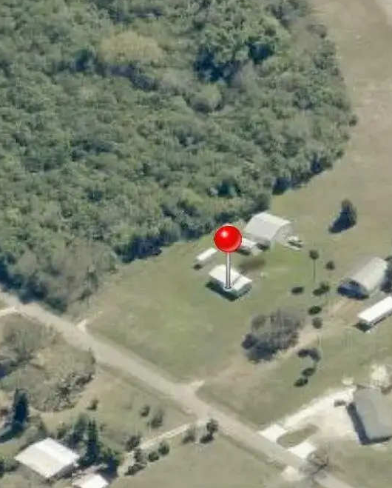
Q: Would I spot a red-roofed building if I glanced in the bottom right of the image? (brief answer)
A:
No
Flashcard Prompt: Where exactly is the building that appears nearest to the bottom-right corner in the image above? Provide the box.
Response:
[348,391,392,449]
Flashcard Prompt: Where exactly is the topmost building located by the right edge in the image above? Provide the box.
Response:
[342,257,389,295]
